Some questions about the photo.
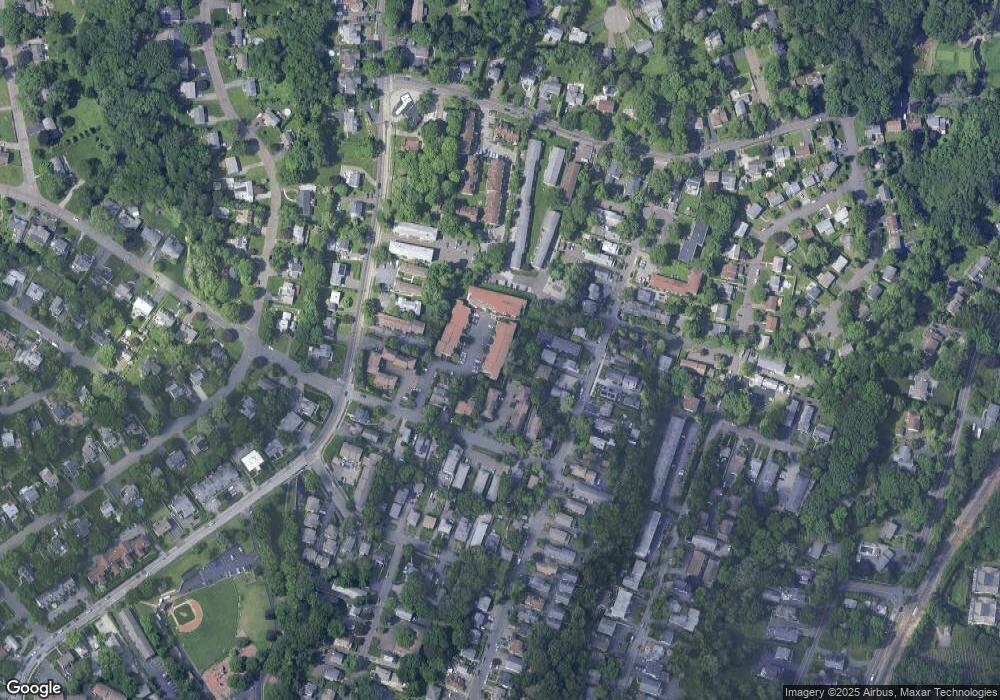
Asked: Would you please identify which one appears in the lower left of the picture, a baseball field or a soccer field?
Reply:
baseball field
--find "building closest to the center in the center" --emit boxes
[481,322,514,380]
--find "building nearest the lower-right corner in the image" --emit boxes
[967,595,996,626]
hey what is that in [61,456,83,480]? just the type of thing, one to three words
house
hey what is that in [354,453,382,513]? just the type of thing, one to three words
building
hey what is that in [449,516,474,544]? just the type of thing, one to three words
house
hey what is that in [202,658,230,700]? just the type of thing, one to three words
playground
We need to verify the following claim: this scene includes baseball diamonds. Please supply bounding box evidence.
[168,577,239,673]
